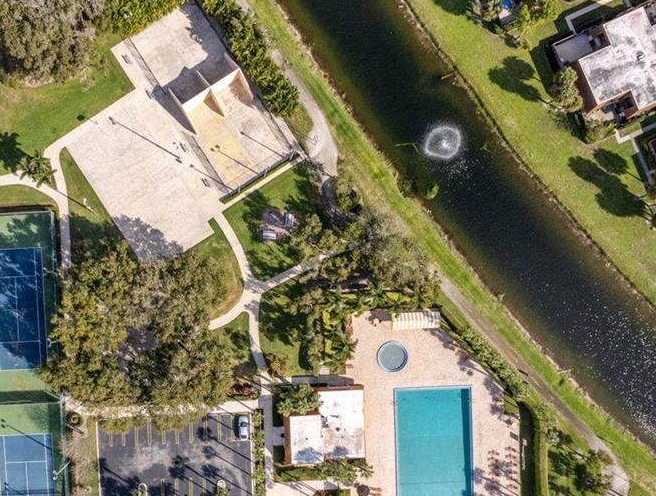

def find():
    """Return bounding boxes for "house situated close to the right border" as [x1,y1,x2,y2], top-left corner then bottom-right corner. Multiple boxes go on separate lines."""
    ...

[568,8,656,116]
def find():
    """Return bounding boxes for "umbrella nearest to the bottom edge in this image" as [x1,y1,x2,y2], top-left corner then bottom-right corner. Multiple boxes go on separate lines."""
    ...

[356,483,370,496]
